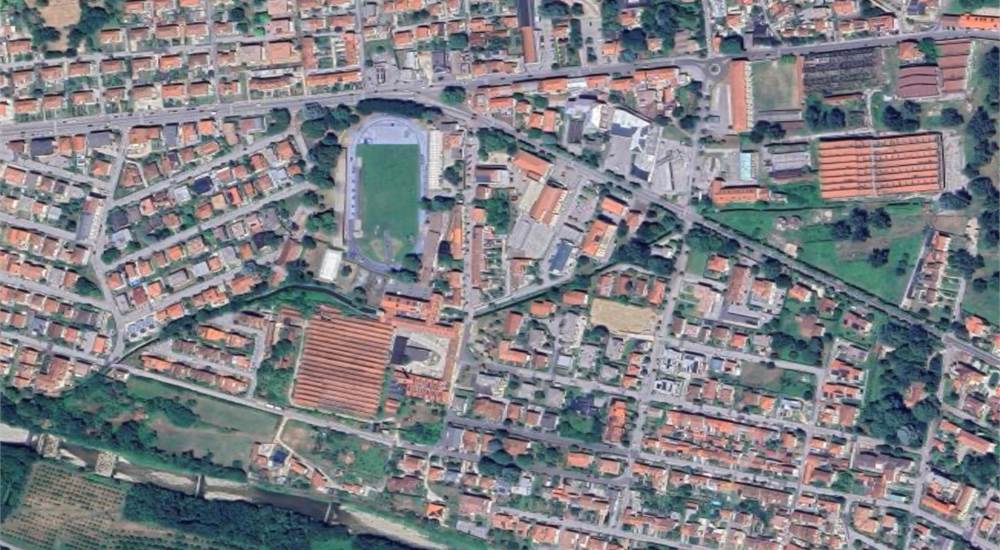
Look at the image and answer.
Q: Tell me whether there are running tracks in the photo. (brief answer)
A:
Yes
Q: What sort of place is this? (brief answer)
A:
residential area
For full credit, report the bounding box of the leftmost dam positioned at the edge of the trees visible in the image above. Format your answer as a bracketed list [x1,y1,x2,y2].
[35,435,61,459]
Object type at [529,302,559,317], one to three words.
house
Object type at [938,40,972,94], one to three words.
shed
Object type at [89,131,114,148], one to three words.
building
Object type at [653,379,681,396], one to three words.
building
